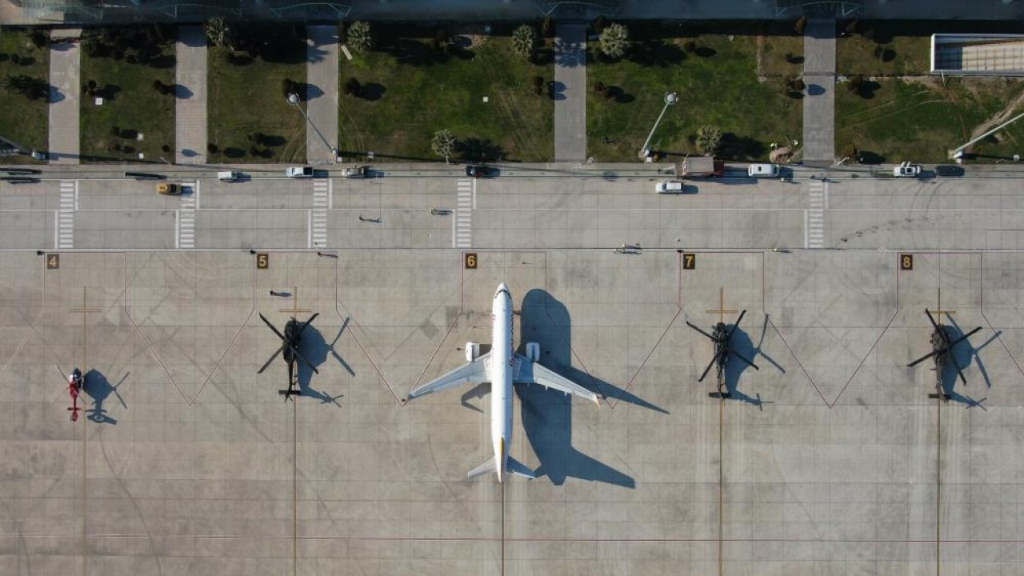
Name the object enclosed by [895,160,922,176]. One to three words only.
car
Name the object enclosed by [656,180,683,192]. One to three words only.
vehicle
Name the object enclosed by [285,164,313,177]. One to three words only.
vehicle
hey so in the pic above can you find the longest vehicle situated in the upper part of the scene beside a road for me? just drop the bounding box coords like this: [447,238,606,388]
[673,156,722,178]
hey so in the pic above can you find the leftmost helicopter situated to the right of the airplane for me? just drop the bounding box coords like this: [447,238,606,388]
[687,312,757,405]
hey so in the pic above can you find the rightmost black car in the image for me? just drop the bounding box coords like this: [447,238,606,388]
[938,163,966,176]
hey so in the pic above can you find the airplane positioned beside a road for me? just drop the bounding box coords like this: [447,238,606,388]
[406,283,599,484]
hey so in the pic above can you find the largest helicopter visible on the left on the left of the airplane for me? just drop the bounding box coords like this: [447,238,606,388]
[259,313,321,404]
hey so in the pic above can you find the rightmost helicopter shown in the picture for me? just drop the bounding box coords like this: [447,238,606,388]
[906,308,982,406]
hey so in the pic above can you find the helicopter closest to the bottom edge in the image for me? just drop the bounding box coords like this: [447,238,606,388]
[54,364,93,422]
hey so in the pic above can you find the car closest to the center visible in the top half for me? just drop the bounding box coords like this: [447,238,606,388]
[466,164,488,176]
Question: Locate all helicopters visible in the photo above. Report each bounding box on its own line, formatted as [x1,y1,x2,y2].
[54,364,93,422]
[906,308,982,406]
[687,312,757,405]
[259,313,321,404]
